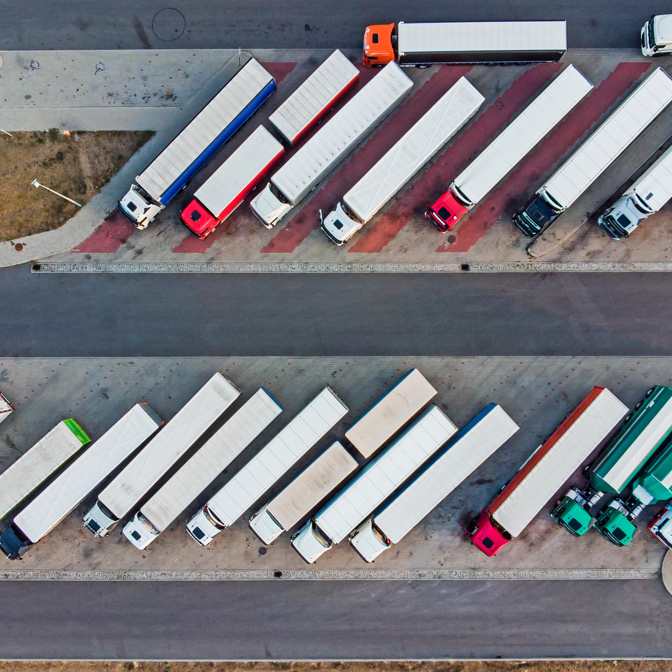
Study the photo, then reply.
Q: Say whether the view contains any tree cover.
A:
No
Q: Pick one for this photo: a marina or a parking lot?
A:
parking lot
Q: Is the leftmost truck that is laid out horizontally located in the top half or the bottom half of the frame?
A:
top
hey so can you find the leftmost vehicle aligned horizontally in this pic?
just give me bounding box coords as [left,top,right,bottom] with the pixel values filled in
[363,21,566,67]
